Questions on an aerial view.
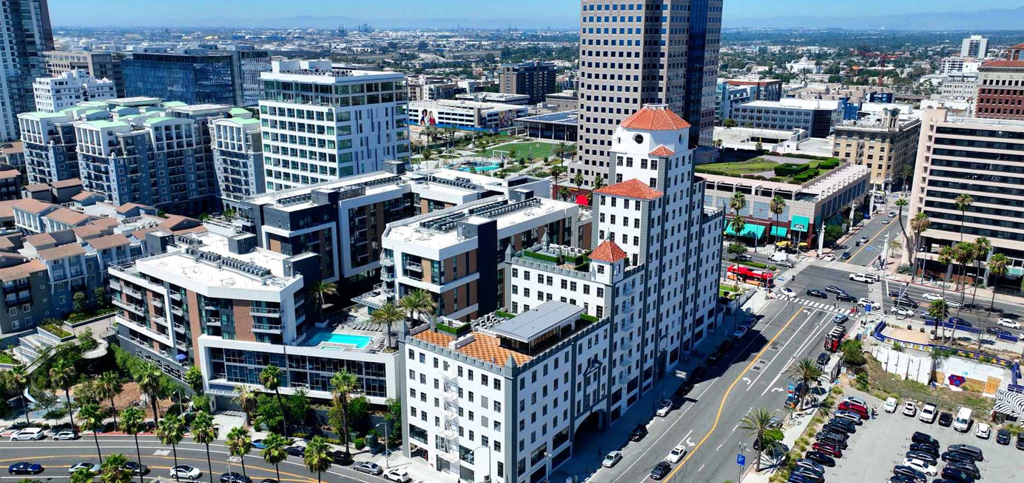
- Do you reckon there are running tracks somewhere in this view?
No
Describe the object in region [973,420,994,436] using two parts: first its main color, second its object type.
white car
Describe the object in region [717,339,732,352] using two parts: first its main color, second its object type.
black vehicle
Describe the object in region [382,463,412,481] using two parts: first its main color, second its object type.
white car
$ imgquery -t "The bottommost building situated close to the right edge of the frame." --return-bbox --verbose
[992,387,1024,433]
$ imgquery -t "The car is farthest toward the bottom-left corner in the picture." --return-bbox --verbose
[8,459,42,472]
